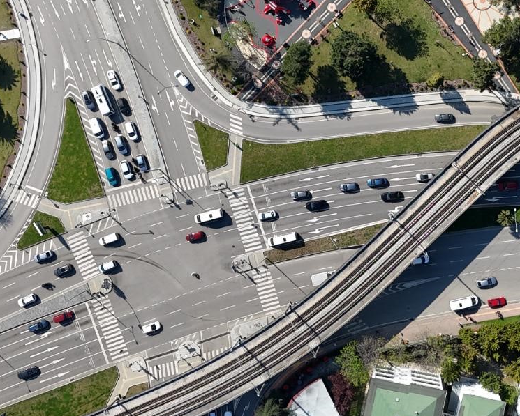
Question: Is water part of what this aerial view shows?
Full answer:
No, the scene doesn't show any water.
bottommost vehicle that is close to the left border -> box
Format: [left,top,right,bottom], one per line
[17,366,40,380]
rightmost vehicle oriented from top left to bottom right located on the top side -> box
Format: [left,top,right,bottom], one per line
[172,69,191,89]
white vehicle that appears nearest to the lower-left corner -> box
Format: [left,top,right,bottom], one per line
[19,294,38,307]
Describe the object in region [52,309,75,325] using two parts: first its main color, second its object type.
red car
